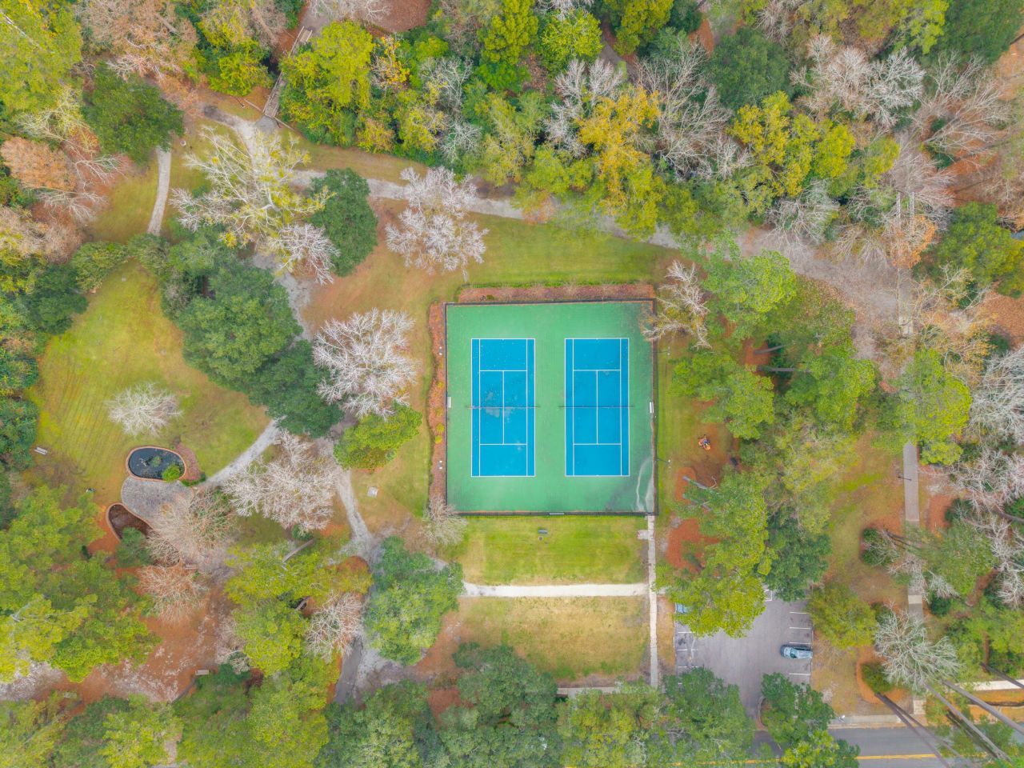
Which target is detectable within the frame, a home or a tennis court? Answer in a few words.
tennis court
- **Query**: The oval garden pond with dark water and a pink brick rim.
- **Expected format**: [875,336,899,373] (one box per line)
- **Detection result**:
[125,446,186,482]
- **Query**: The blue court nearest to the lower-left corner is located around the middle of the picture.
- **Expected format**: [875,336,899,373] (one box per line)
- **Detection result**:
[465,338,541,476]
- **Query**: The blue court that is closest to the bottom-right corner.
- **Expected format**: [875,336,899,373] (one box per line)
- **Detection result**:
[560,338,636,476]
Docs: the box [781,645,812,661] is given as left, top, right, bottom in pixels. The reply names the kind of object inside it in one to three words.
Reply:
car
